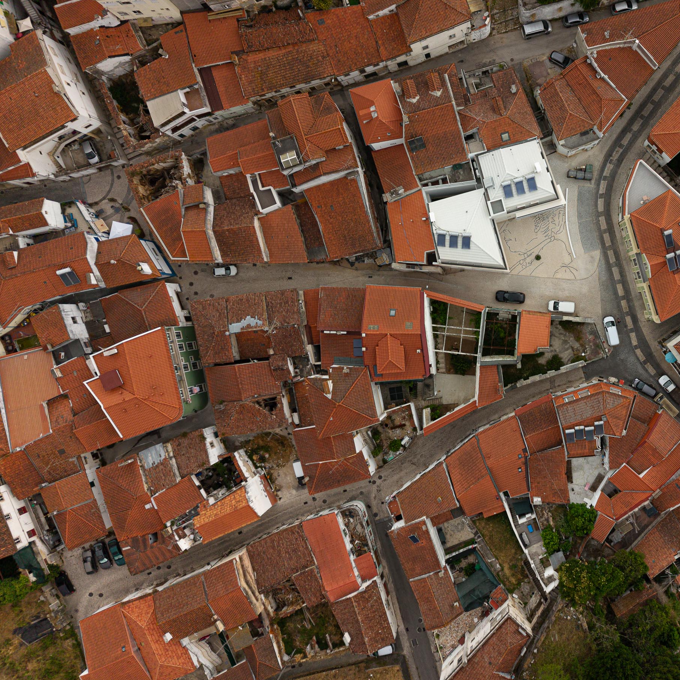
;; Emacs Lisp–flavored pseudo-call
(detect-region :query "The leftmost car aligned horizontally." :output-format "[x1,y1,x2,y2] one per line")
[211,265,240,278]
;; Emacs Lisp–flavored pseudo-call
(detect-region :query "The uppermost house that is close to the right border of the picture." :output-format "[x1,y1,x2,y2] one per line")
[577,0,680,70]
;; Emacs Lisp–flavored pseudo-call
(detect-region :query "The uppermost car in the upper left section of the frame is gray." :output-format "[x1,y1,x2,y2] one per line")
[82,139,100,165]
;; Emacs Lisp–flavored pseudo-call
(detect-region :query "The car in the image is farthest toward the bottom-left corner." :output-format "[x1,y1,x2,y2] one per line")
[56,569,76,597]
